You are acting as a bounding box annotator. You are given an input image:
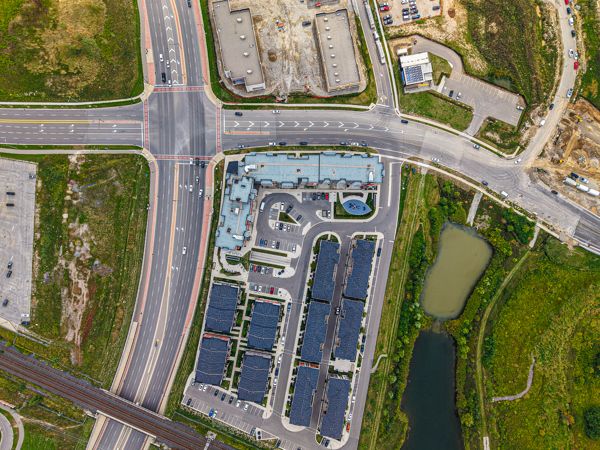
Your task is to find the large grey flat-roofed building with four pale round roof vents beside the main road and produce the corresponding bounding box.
[213,0,265,90]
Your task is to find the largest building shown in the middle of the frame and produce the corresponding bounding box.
[216,152,384,250]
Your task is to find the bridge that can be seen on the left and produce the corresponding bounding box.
[89,383,173,442]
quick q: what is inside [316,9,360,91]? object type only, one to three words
building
